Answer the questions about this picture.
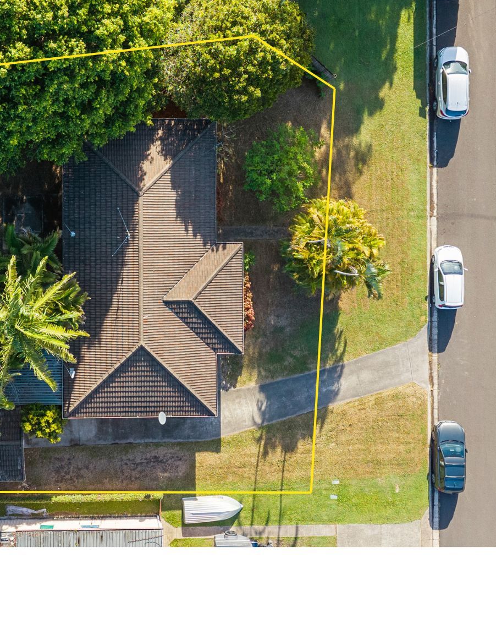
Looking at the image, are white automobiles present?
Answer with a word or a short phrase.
Yes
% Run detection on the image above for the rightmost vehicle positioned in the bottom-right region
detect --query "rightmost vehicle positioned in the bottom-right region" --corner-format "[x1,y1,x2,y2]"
[428,419,469,494]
